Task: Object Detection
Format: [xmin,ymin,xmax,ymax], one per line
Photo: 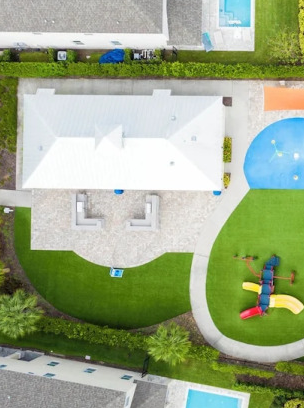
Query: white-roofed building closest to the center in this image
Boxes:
[21,91,226,192]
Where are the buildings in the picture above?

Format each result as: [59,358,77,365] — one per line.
[0,334,170,408]
[0,0,206,54]
[21,91,226,192]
